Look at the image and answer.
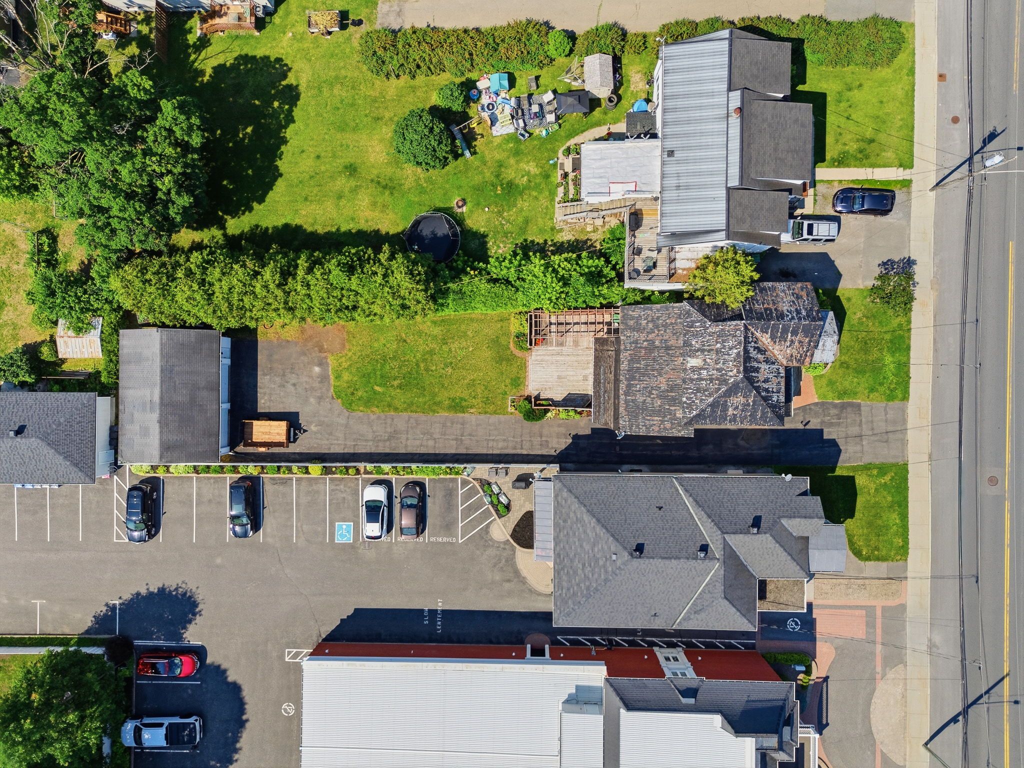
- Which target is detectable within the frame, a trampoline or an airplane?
trampoline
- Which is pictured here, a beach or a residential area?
residential area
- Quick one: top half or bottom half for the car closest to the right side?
top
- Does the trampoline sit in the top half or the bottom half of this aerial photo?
top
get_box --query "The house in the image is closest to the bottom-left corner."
[0,392,117,485]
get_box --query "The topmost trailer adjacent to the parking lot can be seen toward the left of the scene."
[239,417,301,449]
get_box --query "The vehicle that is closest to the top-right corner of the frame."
[829,183,896,215]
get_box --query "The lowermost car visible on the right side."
[781,215,835,246]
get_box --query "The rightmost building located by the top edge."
[655,28,818,253]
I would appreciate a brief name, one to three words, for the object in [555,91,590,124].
gazebo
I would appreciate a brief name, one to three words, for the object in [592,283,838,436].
house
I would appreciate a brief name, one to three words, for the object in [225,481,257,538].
car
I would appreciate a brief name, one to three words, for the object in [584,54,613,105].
shed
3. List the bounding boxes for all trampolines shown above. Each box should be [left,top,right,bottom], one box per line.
[403,207,457,259]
